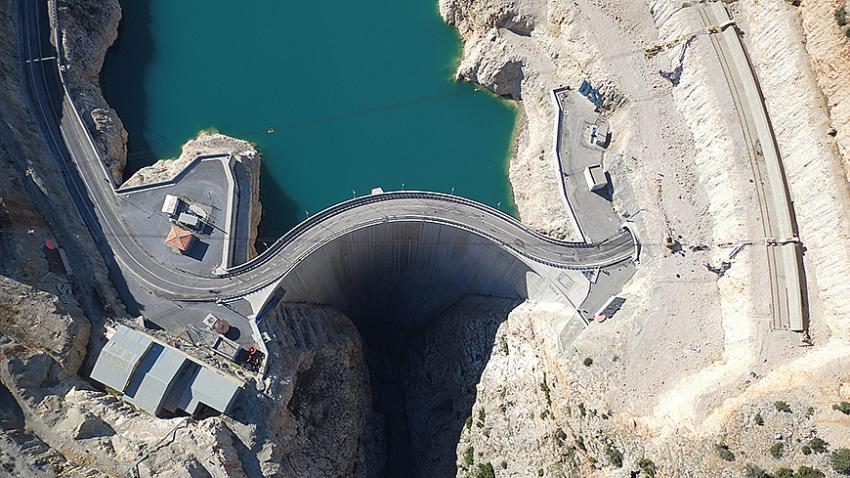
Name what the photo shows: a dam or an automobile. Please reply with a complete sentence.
The one in the frame is a dam.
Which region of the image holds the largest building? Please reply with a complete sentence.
The largest building appears toward the bottom left of the photo.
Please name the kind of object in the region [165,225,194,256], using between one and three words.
house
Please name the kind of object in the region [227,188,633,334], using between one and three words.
dam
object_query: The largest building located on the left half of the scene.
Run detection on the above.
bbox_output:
[90,325,250,417]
